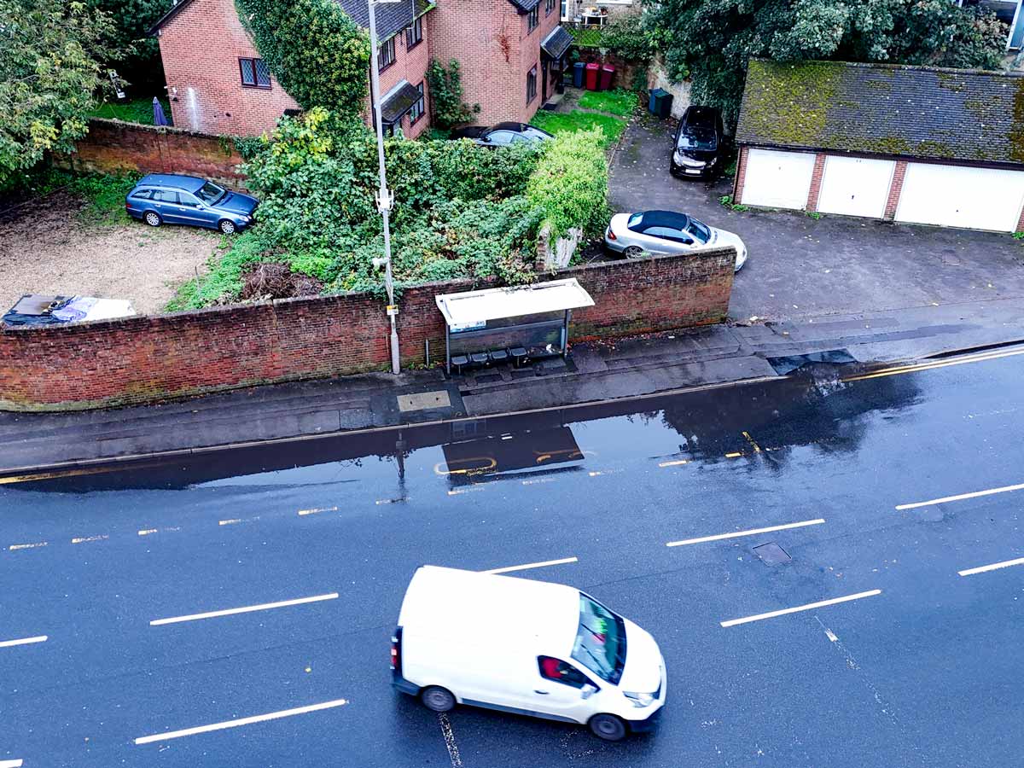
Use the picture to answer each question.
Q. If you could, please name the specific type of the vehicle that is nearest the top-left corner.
automobile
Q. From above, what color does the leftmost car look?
blue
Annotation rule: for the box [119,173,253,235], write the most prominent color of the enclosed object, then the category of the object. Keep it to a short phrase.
blue car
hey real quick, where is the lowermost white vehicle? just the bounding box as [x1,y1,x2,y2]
[389,570,670,745]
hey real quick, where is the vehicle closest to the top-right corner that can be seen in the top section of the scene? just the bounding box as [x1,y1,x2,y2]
[667,108,724,170]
